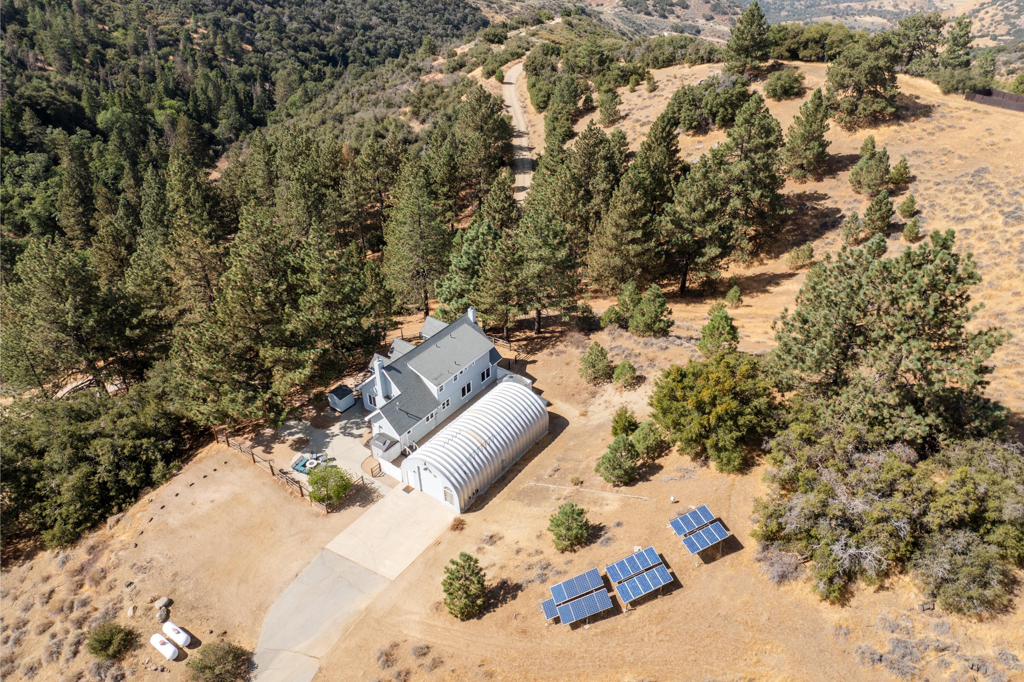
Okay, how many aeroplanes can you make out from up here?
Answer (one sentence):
The picture shows no aeroplanes.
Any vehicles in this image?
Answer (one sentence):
No, I can see no vehicle in this picture.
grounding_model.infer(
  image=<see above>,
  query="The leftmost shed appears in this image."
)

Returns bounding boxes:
[326,384,355,412]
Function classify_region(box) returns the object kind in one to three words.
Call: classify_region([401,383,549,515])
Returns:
hangar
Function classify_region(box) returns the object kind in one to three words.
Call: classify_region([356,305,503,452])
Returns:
house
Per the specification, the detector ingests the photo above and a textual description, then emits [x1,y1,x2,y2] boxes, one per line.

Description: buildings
[401,383,549,515]
[326,384,355,412]
[356,305,503,452]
